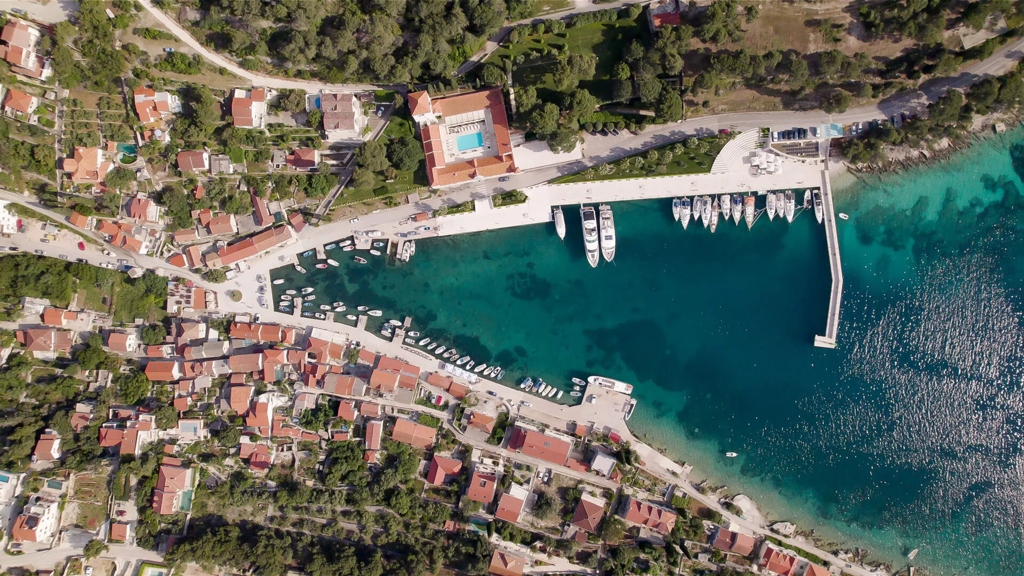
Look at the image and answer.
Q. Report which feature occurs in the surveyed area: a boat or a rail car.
boat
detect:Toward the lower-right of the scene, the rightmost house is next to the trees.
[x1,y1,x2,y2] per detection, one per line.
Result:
[755,540,831,576]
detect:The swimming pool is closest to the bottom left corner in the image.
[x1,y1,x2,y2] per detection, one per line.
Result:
[46,479,66,491]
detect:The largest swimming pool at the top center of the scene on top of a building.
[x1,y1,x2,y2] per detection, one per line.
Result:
[455,131,485,152]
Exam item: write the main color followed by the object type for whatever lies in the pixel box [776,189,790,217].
white boat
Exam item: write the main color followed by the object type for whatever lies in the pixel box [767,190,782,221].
white boat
